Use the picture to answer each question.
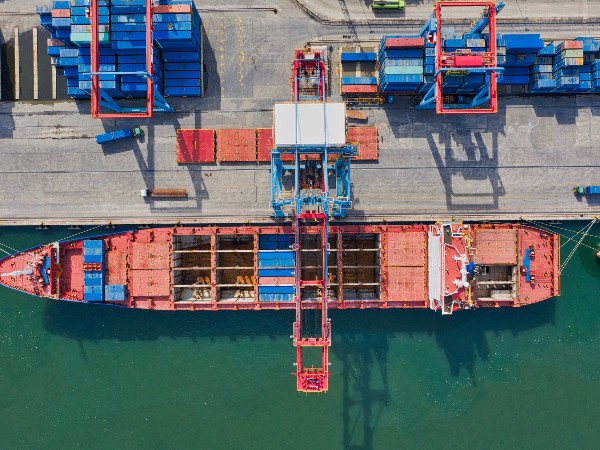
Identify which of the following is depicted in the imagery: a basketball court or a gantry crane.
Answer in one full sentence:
I can see a gantry crane in this picture.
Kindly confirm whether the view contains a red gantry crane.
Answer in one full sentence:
Yes, you can see a red gantry crane in this photo.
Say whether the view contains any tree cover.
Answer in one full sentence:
No, there's no tree cover in this view.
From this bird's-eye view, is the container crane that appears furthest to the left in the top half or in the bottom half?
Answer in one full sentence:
Seen from above, the container crane that appears furthest to the left lies in the top half of the view.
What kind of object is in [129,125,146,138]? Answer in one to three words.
vehicle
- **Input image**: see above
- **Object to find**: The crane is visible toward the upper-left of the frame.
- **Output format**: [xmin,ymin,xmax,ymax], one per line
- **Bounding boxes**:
[83,0,176,120]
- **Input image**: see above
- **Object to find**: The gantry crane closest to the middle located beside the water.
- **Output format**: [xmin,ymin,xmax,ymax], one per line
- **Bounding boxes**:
[268,54,366,397]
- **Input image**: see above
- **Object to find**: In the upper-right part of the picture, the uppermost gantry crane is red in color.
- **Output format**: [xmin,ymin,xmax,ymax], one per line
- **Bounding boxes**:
[414,1,505,112]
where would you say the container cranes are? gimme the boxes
[414,1,505,112]
[268,54,366,397]
[83,0,176,120]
